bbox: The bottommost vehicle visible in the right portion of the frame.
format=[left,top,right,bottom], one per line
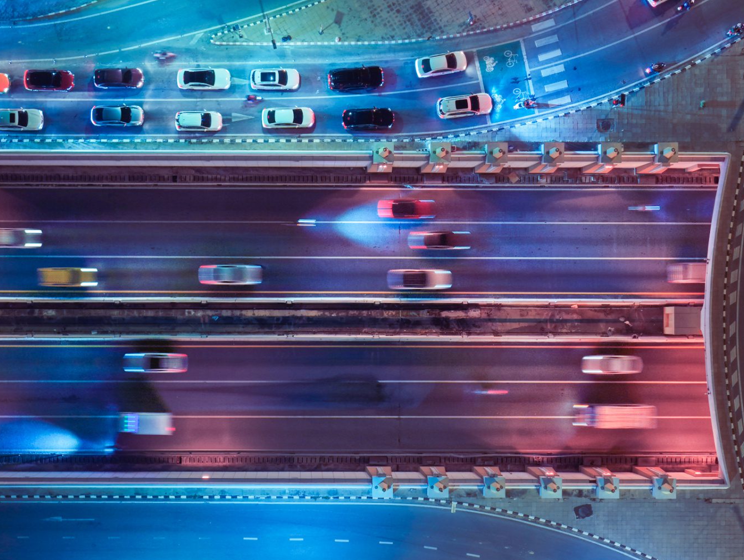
[576,402,657,431]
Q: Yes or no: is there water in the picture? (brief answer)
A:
No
